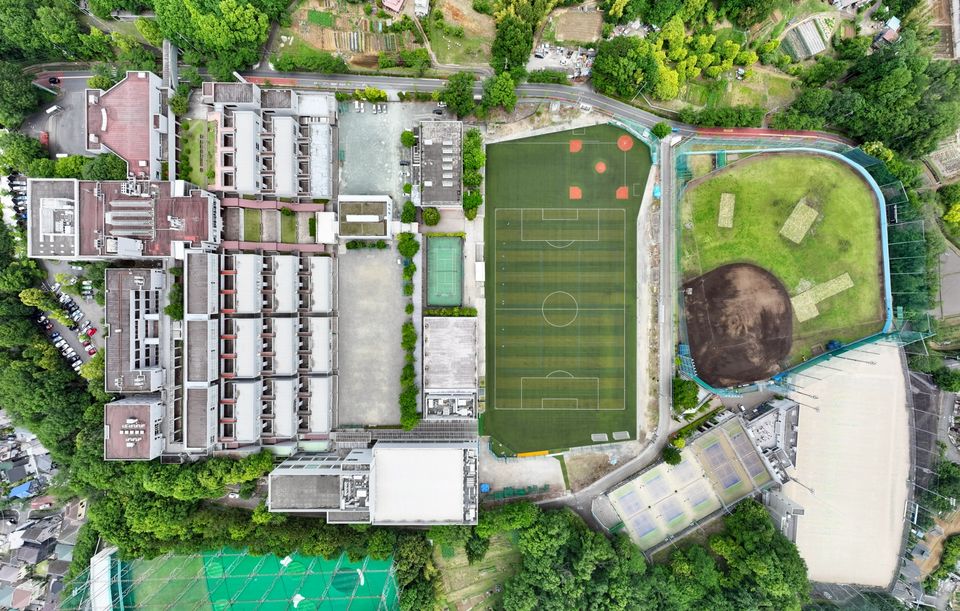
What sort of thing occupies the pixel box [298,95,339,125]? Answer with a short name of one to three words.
building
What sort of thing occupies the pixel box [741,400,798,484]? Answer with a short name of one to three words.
building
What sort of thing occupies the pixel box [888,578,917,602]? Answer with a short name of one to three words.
house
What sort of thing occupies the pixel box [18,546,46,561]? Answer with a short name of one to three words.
house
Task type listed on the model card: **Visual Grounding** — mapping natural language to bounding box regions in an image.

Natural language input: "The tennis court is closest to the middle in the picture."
[426,236,463,306]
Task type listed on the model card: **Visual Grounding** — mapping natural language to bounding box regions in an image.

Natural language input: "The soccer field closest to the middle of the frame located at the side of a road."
[485,123,652,456]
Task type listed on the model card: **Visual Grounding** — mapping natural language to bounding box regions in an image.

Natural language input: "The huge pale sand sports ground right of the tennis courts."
[773,343,912,589]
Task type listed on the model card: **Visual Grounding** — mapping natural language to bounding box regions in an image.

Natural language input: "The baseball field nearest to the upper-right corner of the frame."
[683,155,886,389]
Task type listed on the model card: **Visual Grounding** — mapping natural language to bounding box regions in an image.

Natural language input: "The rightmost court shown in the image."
[693,417,772,503]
